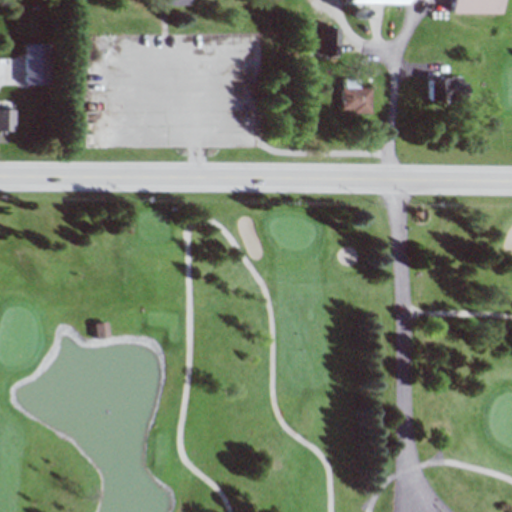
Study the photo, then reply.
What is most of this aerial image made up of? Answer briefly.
grass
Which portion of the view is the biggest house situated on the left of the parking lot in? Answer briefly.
top left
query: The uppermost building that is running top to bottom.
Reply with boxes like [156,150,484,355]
[327,27,340,56]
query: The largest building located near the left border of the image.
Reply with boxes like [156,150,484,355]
[24,45,48,88]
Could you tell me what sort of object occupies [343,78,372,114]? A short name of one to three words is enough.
house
